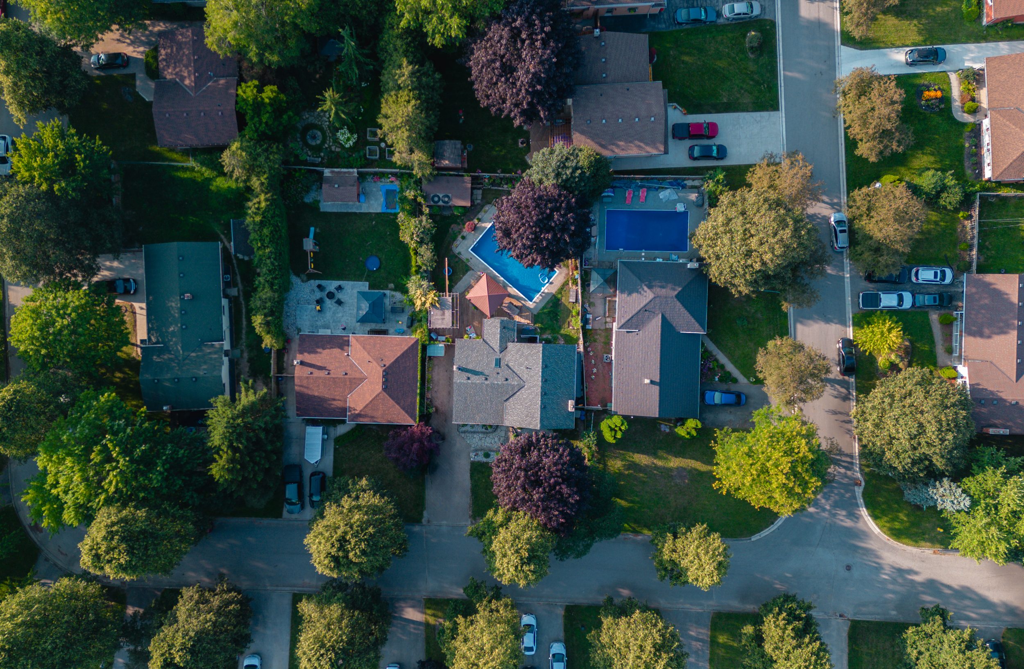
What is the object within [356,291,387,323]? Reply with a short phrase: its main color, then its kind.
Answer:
blue gazebo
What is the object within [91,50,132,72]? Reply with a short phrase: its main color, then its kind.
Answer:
black car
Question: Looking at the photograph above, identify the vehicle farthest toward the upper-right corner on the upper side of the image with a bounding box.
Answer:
[902,45,946,68]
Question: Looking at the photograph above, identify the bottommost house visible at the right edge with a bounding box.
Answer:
[956,271,1024,436]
